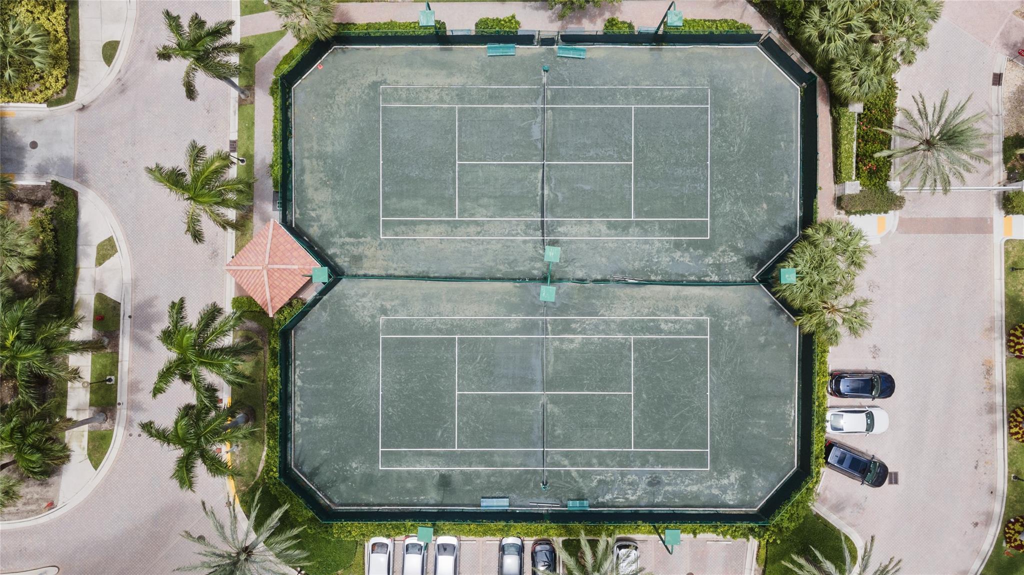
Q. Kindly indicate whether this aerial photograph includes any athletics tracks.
No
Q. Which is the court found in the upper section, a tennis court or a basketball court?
tennis court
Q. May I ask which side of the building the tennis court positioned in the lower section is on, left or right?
to the right of it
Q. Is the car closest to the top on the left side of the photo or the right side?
right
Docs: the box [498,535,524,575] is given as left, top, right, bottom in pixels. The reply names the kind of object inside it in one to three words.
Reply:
car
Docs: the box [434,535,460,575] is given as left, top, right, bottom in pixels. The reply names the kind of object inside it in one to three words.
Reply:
car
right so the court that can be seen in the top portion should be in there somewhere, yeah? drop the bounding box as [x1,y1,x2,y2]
[293,46,800,283]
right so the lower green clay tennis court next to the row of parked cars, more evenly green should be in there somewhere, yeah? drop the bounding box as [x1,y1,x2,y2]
[292,278,798,509]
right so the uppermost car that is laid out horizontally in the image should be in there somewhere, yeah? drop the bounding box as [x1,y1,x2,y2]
[825,369,894,401]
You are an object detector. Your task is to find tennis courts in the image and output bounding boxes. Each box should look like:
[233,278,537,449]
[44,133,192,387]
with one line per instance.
[292,278,798,509]
[293,46,800,283]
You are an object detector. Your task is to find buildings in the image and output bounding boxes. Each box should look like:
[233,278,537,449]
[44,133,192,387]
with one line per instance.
[222,217,325,319]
